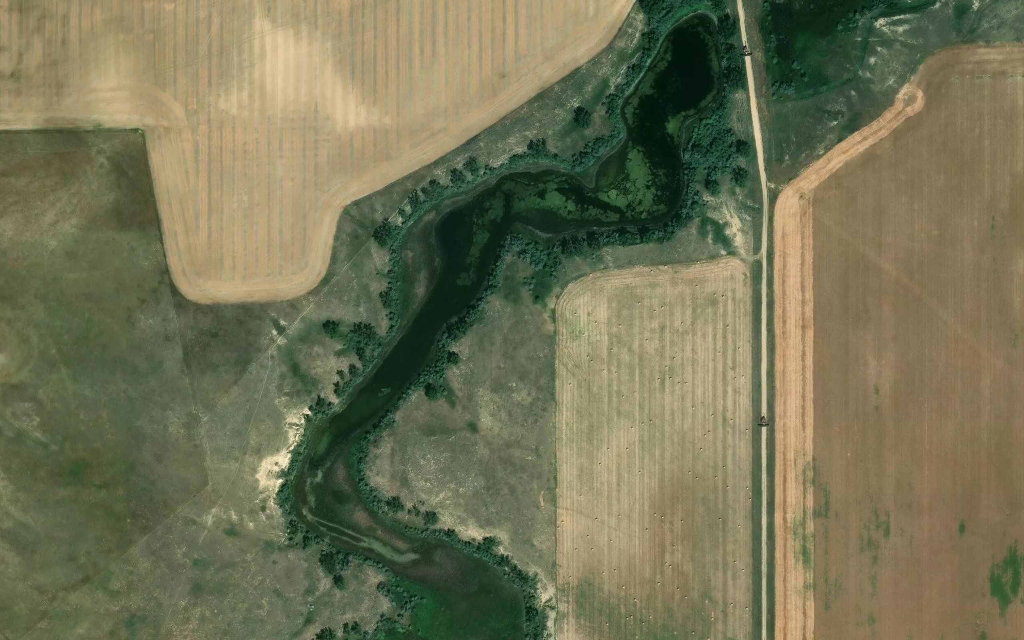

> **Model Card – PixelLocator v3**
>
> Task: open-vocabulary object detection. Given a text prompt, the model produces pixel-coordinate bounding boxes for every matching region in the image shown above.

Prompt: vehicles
[758,416,770,427]
[742,43,753,56]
